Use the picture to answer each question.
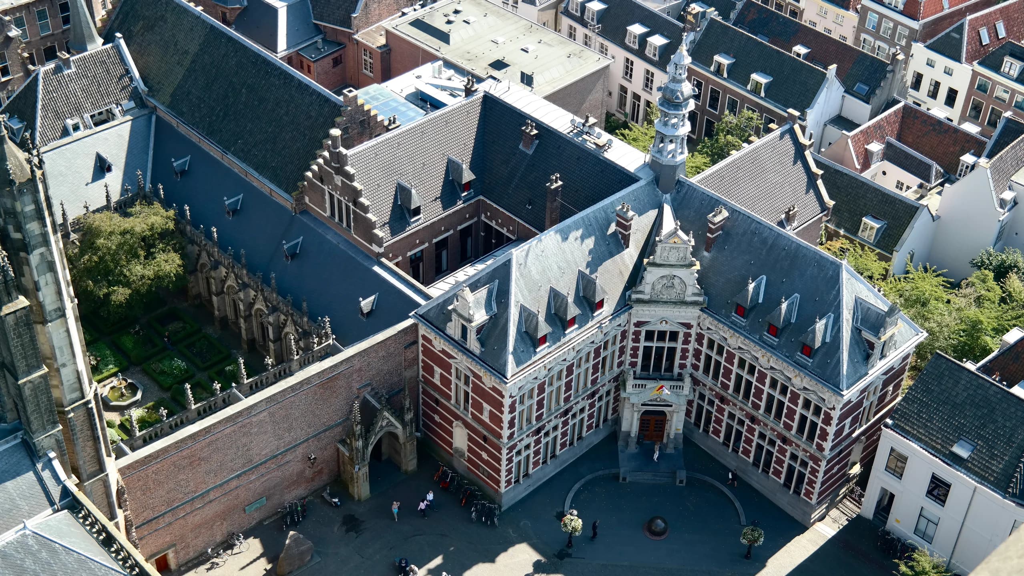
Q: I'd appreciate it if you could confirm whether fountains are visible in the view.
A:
Yes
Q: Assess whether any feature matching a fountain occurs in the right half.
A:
No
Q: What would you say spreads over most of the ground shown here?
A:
buildings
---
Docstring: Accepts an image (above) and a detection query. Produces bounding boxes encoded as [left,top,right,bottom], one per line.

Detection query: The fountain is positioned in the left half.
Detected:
[104,374,146,413]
